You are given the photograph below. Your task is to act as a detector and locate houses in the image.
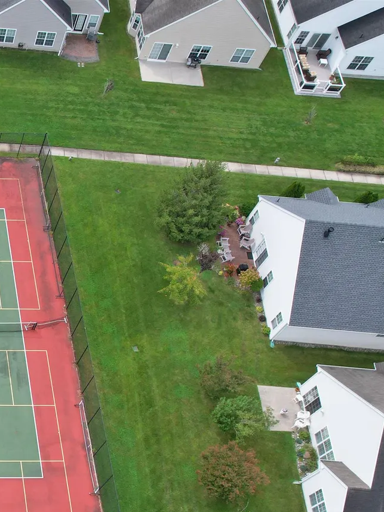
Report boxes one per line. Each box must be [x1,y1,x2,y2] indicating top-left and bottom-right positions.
[247,171,384,349]
[294,364,384,512]
[275,0,384,83]
[125,0,279,69]
[0,0,112,54]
